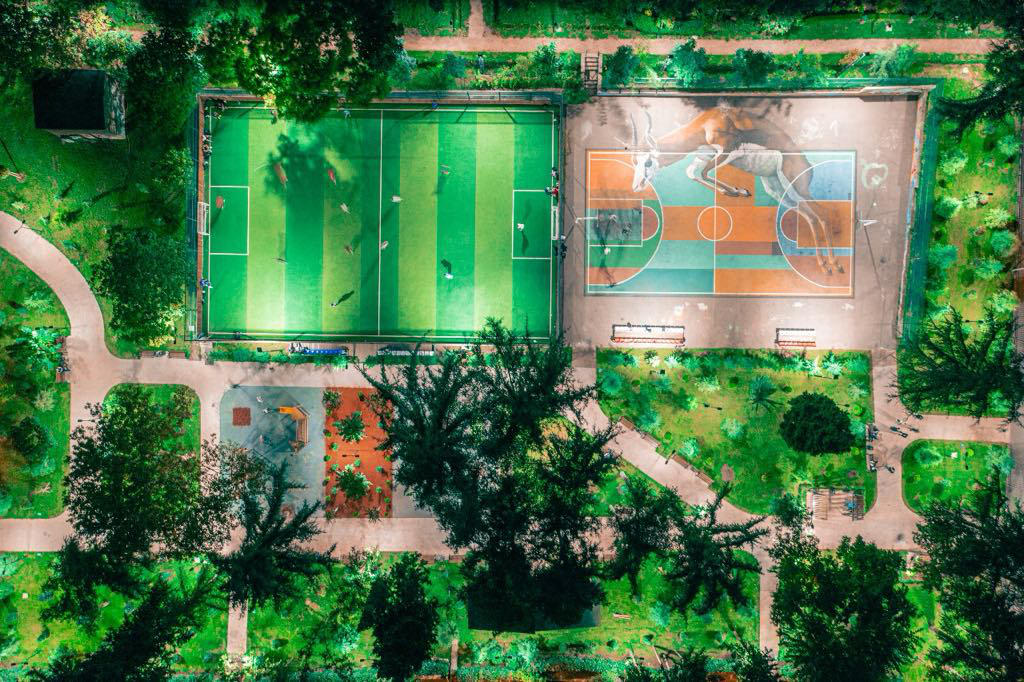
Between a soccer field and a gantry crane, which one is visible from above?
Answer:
soccer field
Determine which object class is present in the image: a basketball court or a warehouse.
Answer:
basketball court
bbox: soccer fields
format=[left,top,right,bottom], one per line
[203,101,560,342]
